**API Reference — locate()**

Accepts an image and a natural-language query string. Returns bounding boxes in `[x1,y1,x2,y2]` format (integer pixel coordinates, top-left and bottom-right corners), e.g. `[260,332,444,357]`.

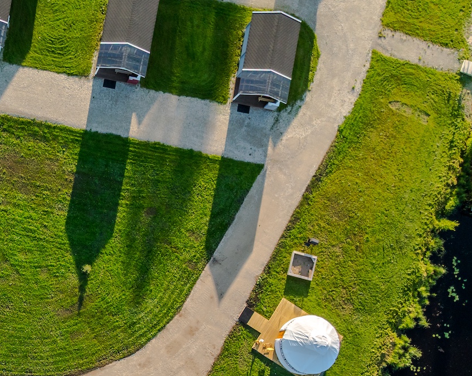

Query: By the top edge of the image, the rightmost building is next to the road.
[231,8,302,112]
